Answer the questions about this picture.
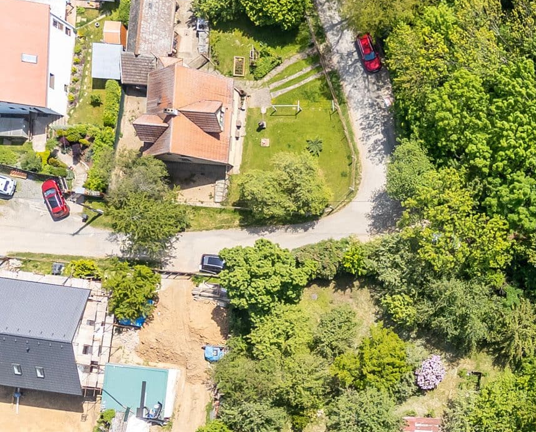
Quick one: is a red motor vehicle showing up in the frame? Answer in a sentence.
Yes, I can see a red motor vehicle in this picture.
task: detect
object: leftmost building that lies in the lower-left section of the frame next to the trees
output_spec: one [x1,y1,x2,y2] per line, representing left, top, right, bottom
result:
[0,277,107,398]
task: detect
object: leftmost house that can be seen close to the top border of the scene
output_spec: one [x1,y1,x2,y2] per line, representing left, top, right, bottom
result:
[0,0,77,114]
